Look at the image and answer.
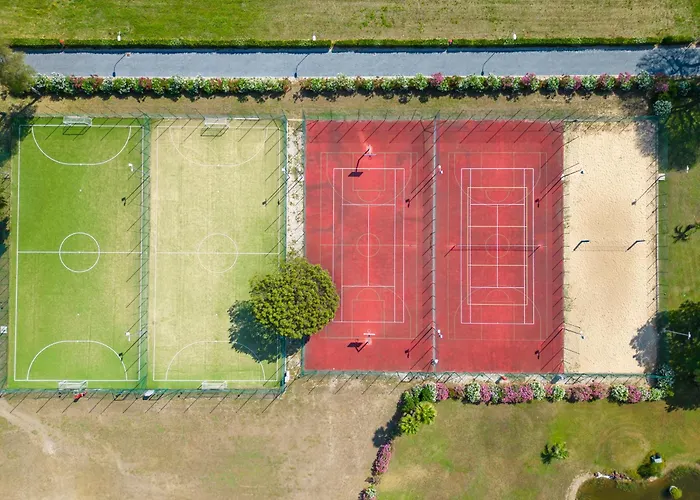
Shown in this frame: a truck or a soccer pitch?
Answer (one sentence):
I can see a soccer pitch in this picture.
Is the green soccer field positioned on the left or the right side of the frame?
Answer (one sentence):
The green soccer field appears in the left half of the scene.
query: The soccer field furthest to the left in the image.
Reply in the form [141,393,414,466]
[8,118,150,389]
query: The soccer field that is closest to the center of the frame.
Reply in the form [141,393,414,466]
[148,118,287,389]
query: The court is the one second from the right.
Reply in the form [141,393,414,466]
[433,120,564,372]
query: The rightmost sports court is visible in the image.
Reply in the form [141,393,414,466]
[563,120,658,372]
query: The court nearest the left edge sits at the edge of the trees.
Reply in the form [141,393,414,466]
[305,120,434,372]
